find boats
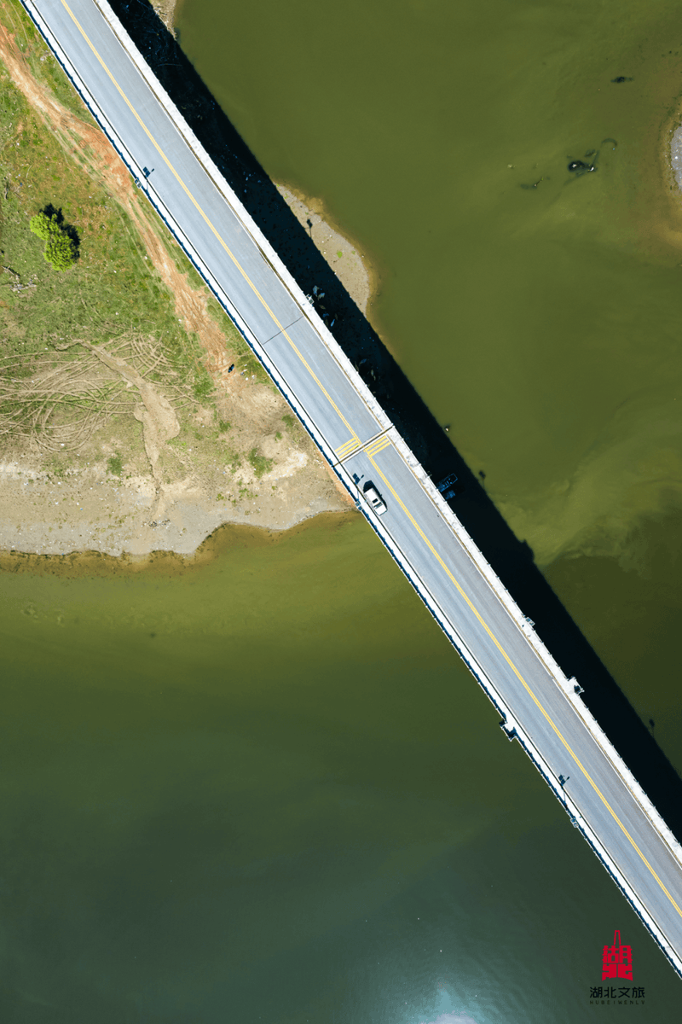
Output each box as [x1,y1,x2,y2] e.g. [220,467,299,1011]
[437,475,458,493]
[442,489,456,502]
